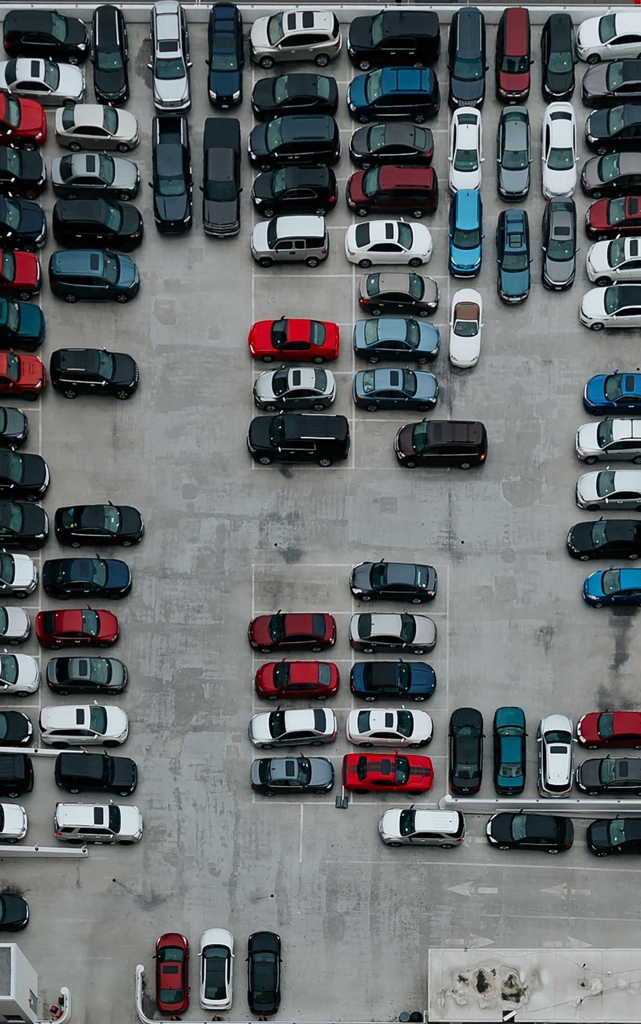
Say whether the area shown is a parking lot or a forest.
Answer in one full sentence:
What you see here is a parking lot.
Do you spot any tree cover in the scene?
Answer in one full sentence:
No, the picture contains no tree cover.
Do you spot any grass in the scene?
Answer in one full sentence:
No, grass can't be seen anywhere here.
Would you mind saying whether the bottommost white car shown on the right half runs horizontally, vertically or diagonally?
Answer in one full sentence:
In this picture, the bottommost white car shown on the right half lies horizontally.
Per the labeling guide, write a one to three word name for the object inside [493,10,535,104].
car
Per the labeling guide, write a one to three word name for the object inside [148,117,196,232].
truck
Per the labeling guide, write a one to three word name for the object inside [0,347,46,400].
truck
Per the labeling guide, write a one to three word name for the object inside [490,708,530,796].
car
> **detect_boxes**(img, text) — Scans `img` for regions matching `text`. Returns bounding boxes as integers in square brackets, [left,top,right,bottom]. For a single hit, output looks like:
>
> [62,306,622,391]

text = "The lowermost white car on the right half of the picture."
[378,803,466,848]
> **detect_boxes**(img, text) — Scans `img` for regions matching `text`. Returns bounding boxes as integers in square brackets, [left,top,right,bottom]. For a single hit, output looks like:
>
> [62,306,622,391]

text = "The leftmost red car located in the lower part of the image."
[35,604,120,649]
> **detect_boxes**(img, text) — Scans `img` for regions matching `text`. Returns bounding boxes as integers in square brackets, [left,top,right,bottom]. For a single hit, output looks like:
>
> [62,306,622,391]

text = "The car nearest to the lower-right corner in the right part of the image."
[584,813,641,856]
